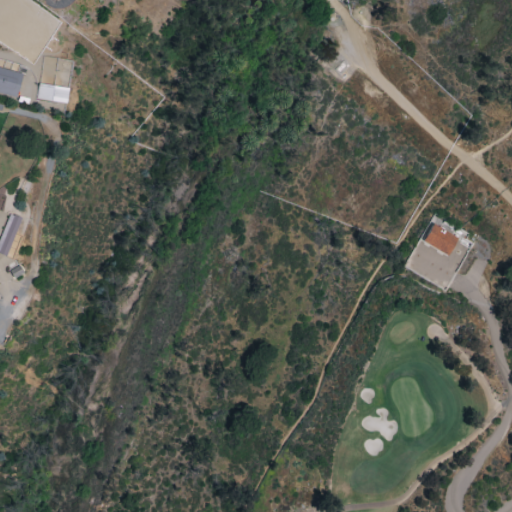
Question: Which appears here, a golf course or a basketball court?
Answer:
golf course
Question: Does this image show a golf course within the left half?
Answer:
No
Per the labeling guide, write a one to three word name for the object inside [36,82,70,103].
shed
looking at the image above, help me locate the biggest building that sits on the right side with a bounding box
[426,224,459,255]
